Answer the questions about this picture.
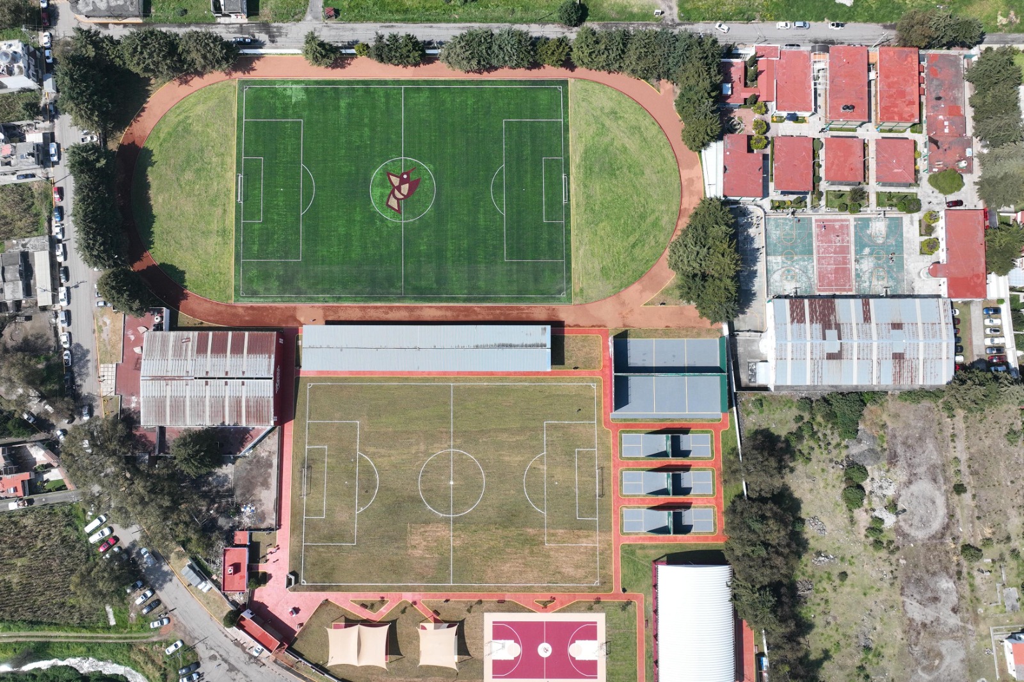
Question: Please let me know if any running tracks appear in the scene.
Yes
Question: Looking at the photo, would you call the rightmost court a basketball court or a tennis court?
basketball court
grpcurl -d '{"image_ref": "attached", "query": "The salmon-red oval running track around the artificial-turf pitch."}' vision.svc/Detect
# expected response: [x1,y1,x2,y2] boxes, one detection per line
[113,55,736,329]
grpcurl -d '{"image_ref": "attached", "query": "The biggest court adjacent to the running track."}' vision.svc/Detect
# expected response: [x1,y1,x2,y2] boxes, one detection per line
[609,333,732,418]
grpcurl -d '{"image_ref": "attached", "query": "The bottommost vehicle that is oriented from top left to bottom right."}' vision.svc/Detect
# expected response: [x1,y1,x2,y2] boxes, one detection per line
[138,546,155,564]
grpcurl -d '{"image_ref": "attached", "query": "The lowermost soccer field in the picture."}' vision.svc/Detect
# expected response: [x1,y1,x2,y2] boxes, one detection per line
[297,380,603,589]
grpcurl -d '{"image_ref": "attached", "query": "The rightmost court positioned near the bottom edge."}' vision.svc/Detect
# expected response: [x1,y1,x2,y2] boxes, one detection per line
[484,613,606,682]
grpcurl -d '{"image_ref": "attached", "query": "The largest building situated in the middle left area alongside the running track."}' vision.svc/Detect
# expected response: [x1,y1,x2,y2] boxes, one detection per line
[140,331,283,425]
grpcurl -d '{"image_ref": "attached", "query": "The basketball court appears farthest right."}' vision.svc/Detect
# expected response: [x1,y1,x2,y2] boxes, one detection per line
[854,217,905,295]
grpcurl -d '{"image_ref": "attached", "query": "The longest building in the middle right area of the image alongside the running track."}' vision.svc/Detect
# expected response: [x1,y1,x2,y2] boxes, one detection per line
[767,298,955,391]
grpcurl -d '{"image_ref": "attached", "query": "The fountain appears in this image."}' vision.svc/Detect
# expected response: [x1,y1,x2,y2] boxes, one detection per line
[726,116,745,134]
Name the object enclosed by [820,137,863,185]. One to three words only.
building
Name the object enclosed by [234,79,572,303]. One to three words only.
soccer field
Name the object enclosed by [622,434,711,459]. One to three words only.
sports court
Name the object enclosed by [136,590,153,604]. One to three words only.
car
